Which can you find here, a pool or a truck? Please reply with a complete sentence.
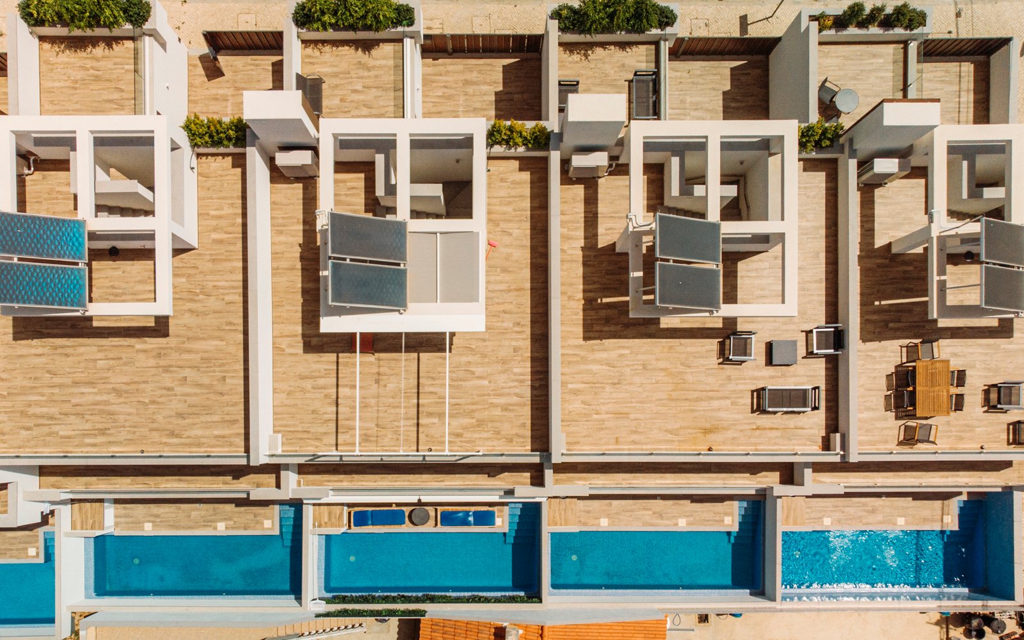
It is a pool that can be seen here.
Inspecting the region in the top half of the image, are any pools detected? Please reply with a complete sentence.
No, I can find no pool in the top half of the image.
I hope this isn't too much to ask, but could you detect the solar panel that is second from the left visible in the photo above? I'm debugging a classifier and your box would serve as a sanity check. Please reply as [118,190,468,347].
[313,209,408,315]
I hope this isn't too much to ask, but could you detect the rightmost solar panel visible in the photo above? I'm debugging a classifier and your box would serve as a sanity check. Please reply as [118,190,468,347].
[918,208,1024,319]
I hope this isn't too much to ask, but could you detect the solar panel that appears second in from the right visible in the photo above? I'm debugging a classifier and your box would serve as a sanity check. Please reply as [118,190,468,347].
[621,209,721,316]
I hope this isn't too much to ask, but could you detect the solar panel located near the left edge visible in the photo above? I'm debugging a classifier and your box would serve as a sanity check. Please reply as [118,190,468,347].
[0,212,88,315]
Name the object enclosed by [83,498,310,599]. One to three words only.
swimming pool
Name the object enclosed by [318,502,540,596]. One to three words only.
swimming pool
